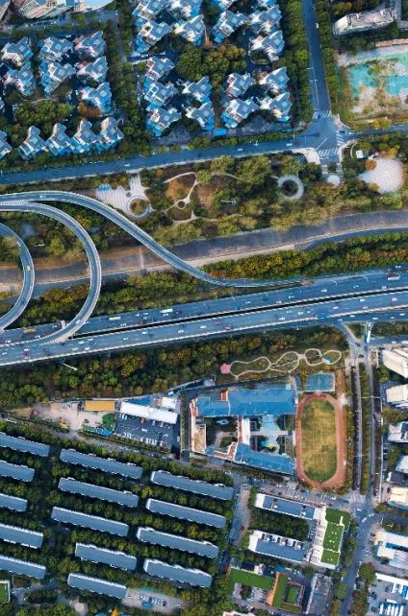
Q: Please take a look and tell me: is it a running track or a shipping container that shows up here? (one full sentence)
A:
Of the two, only a running track appears.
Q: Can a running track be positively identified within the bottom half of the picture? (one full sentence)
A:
Yes, you'll find a running track within the bottom half of the picture.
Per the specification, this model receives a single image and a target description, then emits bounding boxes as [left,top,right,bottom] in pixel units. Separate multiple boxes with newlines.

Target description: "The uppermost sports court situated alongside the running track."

[307,374,335,392]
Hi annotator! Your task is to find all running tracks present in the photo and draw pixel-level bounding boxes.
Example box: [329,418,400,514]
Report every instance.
[296,393,344,488]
